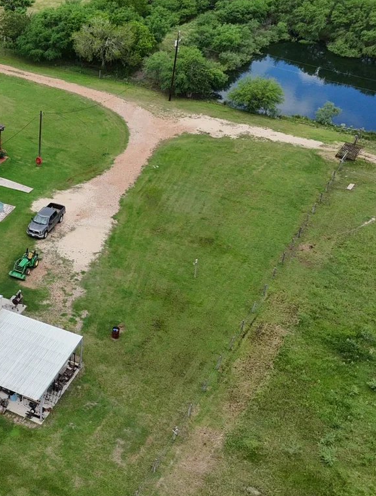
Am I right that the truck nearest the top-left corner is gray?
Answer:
Yes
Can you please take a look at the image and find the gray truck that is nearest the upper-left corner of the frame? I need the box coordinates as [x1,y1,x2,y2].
[25,204,67,238]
